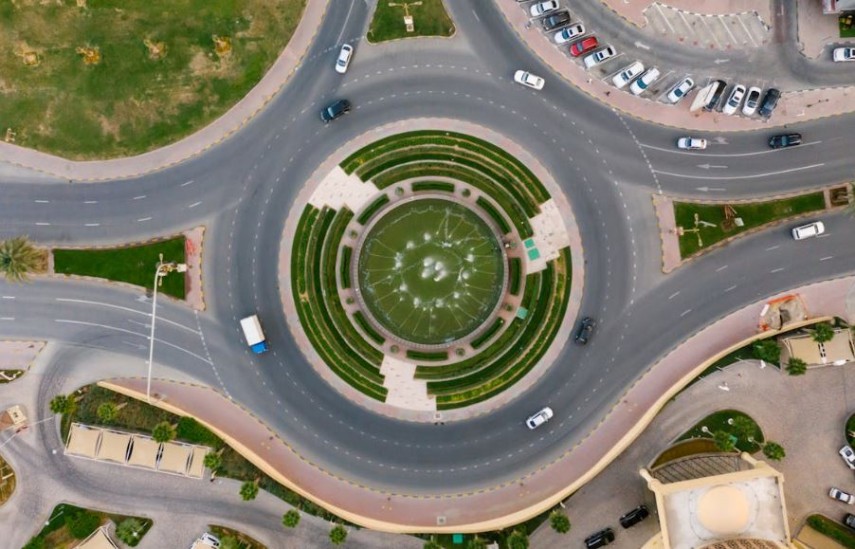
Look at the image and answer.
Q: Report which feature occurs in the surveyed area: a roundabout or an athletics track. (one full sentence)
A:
I can see a roundabout in this picture.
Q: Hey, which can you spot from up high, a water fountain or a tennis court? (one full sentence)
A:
Visible in the photo is a water fountain.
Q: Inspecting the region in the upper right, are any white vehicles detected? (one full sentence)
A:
Yes, a white vehicle appears in the upper right.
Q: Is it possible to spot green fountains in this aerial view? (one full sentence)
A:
Yes, looking at the shot, I can spot a green fountain.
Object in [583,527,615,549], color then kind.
black car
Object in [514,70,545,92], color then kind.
white car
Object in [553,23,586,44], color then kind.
white car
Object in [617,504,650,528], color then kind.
black car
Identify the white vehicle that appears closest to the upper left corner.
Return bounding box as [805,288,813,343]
[335,43,354,76]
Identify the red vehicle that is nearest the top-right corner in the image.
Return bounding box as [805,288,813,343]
[568,35,600,58]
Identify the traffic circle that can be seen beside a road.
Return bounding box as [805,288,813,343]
[205,44,657,496]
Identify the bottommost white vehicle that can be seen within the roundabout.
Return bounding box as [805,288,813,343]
[524,406,554,431]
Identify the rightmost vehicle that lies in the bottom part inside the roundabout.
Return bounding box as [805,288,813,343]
[574,315,596,346]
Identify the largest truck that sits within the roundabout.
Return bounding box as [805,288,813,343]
[238,314,270,355]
